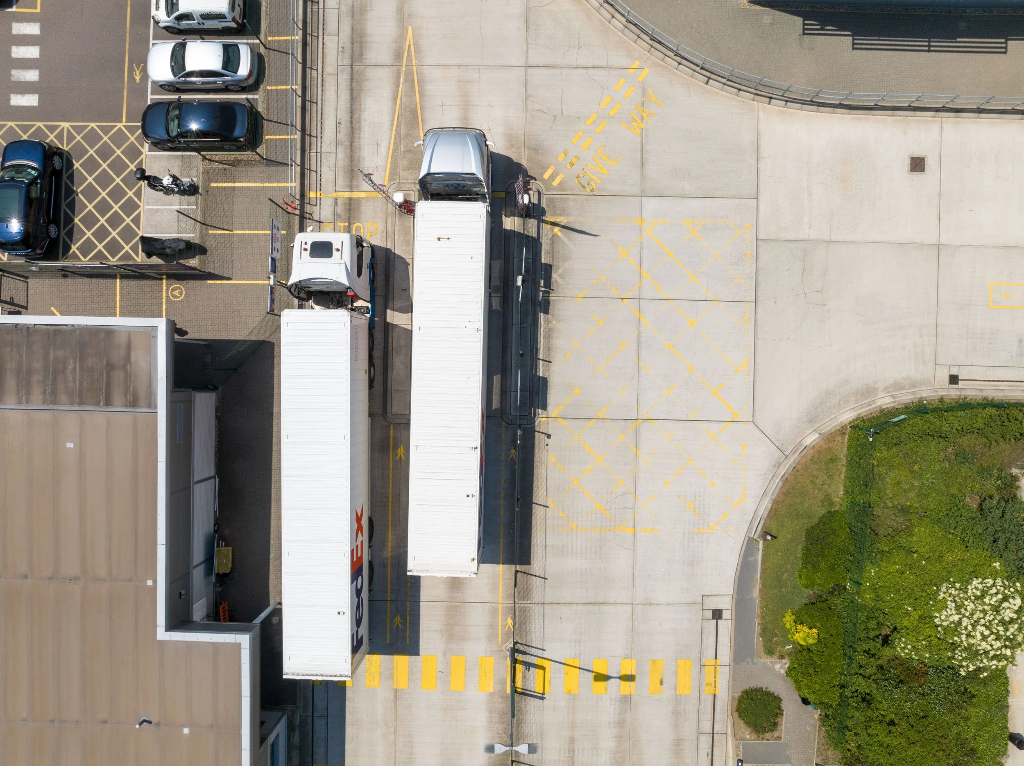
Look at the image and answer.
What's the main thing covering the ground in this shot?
paved ground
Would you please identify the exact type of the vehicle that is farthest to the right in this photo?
truck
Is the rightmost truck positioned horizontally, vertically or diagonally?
vertically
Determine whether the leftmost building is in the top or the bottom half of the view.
bottom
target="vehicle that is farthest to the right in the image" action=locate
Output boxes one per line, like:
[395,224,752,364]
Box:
[408,126,494,576]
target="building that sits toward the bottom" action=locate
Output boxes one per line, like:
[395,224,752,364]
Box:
[0,316,288,766]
